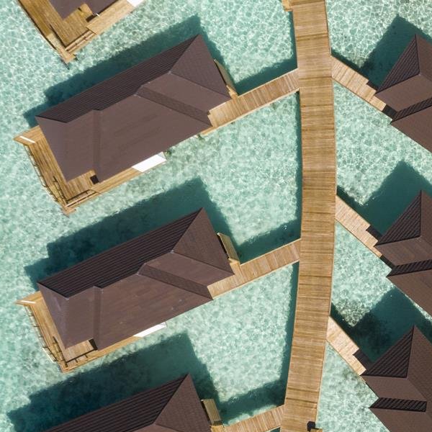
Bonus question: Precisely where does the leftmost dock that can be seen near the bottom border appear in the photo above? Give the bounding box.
[225,404,282,432]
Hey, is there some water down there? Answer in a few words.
Yes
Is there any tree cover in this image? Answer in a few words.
No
